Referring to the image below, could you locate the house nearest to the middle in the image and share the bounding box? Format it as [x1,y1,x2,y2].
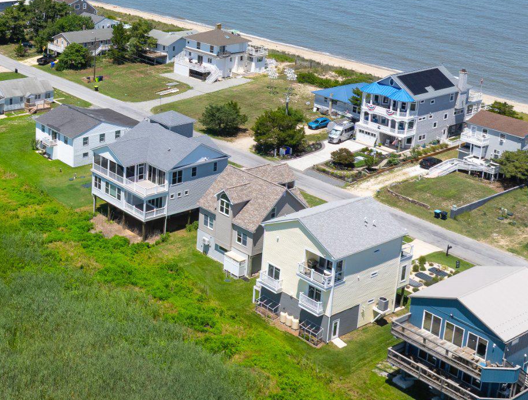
[195,165,321,276]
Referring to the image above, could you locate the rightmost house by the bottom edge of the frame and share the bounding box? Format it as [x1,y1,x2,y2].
[386,267,528,400]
